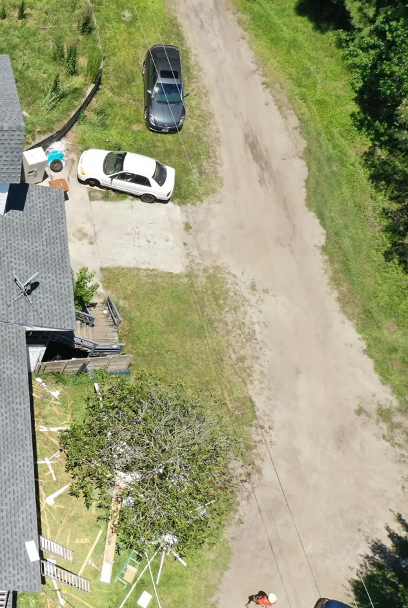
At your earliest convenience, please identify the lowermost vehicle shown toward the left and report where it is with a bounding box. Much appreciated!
[79,150,176,208]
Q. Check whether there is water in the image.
No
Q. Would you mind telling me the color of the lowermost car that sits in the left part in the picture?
white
